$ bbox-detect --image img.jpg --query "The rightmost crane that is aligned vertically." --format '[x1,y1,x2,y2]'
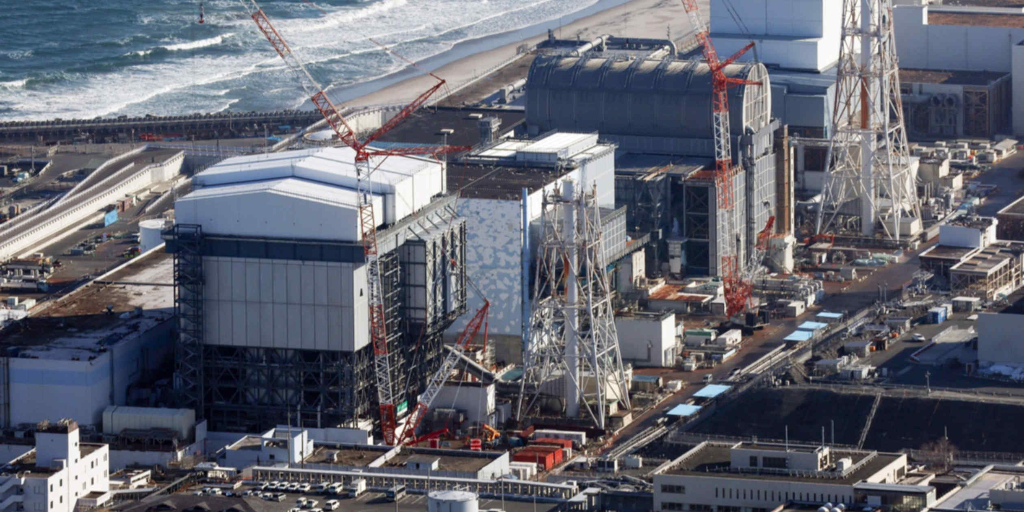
[677,0,791,328]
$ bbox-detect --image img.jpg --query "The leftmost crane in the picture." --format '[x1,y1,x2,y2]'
[234,0,491,446]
